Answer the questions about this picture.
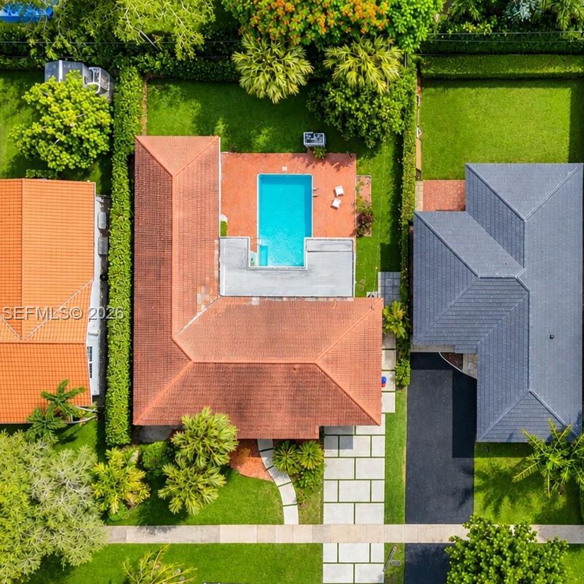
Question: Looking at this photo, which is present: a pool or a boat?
pool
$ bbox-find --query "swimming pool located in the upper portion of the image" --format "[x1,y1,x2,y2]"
[251,173,320,268]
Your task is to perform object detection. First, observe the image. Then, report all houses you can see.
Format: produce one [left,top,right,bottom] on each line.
[133,135,383,439]
[0,179,104,423]
[413,163,584,442]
